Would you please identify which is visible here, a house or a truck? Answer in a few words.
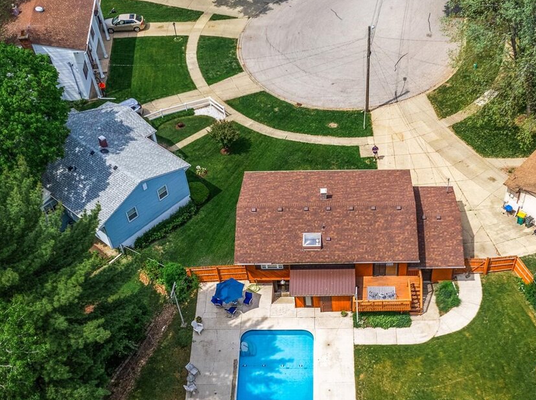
house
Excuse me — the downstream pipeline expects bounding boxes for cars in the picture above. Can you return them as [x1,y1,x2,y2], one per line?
[104,14,149,35]
[109,92,150,116]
